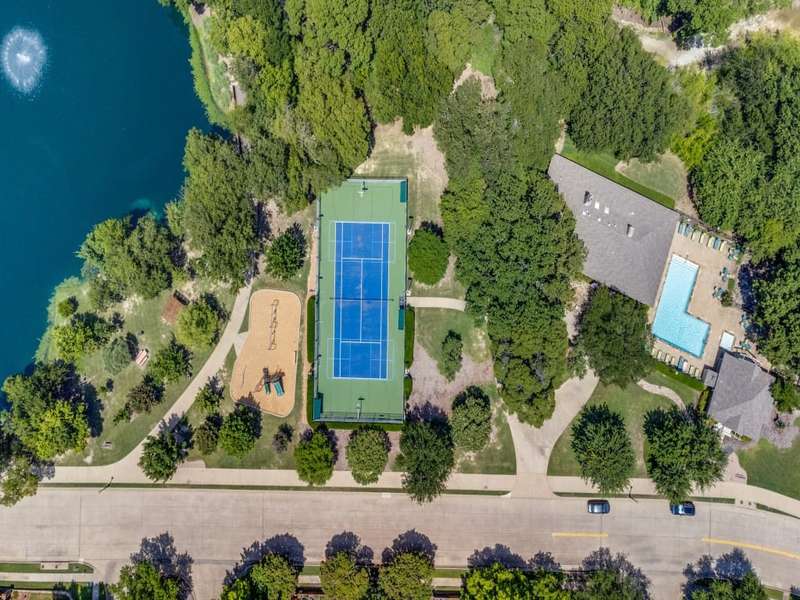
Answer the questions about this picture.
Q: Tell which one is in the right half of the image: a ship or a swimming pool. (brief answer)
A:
swimming pool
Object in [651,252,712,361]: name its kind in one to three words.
swimming pool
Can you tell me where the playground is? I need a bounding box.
[230,288,302,418]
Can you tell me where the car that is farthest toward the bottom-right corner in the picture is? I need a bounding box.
[669,500,693,515]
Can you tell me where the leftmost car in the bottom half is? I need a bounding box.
[587,499,609,515]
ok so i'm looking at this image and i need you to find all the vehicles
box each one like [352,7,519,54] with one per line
[587,499,609,515]
[669,500,693,515]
